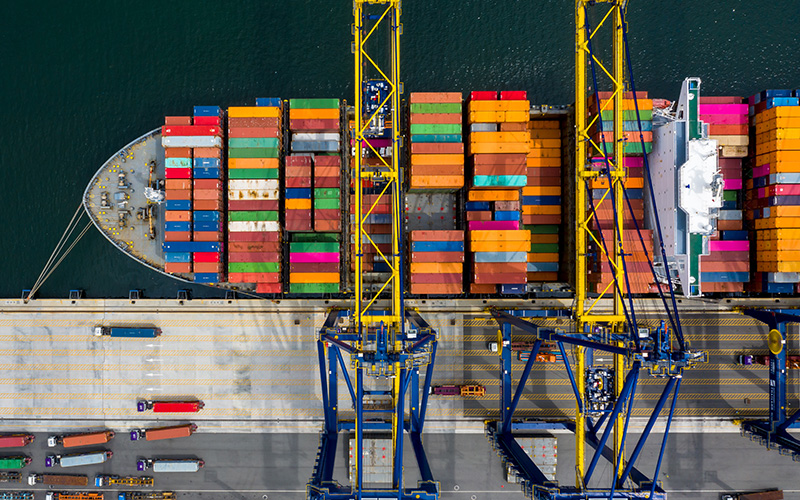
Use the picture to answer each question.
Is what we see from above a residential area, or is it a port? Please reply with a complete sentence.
This looks like a port.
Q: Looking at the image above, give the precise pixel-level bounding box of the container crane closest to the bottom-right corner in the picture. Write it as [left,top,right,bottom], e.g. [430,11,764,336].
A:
[733,307,800,457]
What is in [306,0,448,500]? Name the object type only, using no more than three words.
container crane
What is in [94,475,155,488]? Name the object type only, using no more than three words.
vehicle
